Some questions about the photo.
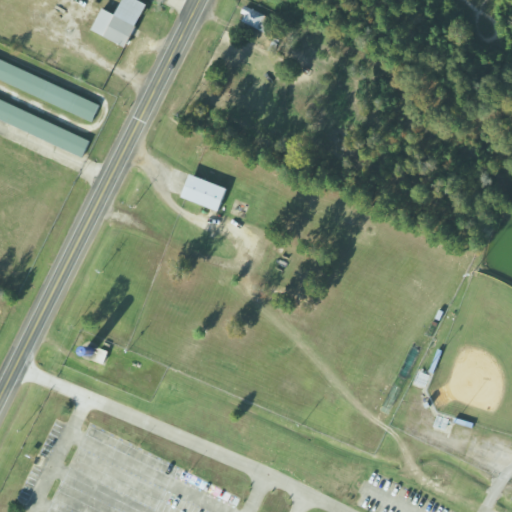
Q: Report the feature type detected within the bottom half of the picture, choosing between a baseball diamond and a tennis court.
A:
baseball diamond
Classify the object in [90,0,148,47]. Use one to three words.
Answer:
barn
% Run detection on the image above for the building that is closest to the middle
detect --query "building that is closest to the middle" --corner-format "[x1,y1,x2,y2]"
[180,174,228,212]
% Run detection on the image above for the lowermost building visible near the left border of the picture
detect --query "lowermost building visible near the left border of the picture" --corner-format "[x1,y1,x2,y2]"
[0,101,90,156]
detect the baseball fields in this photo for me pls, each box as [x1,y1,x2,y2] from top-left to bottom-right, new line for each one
[436,346,505,413]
